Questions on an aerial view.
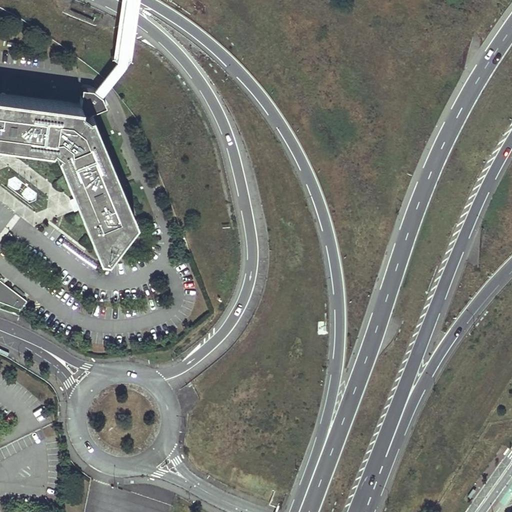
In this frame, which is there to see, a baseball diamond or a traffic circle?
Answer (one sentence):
Visible in the photo is a traffic circle.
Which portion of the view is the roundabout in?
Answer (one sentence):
The roundabout is in the bottom left part of the image.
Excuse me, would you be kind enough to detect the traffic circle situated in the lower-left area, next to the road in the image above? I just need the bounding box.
[66,363,182,478]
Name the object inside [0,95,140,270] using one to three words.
building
